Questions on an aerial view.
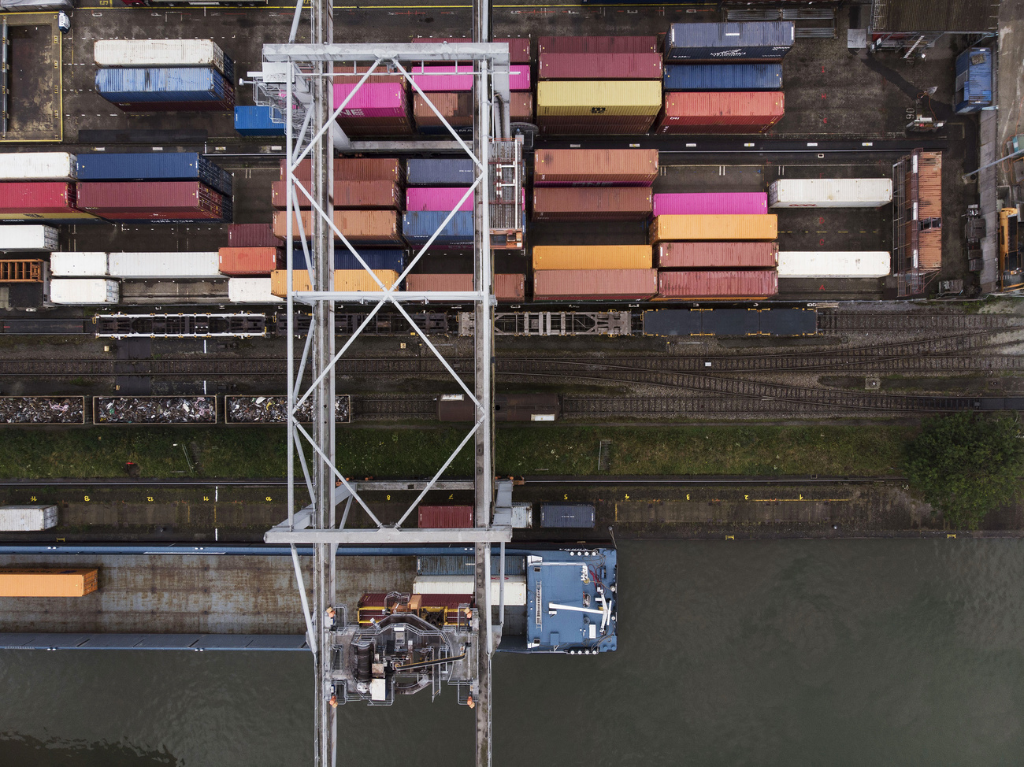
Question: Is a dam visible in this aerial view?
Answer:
No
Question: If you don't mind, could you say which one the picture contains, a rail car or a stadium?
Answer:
rail car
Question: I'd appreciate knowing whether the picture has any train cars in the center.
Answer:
Yes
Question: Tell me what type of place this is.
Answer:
port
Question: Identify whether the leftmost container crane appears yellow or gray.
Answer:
gray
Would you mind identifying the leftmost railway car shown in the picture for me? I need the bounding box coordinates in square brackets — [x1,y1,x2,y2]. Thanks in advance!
[0,395,93,425]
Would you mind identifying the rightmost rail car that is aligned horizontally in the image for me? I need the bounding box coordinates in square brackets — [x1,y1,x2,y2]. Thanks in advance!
[638,309,821,336]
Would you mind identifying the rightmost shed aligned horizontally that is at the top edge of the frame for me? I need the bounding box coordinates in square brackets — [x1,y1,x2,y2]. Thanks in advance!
[852,0,999,59]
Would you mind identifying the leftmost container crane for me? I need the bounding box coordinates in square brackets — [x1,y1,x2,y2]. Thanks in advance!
[239,0,538,767]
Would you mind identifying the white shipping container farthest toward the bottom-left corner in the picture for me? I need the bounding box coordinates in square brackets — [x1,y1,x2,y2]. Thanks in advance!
[0,504,58,530]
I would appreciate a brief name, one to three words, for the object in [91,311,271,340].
rail car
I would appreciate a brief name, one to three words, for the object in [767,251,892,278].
shipping container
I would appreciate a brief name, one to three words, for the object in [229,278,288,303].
shipping container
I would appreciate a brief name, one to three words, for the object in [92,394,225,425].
rail car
